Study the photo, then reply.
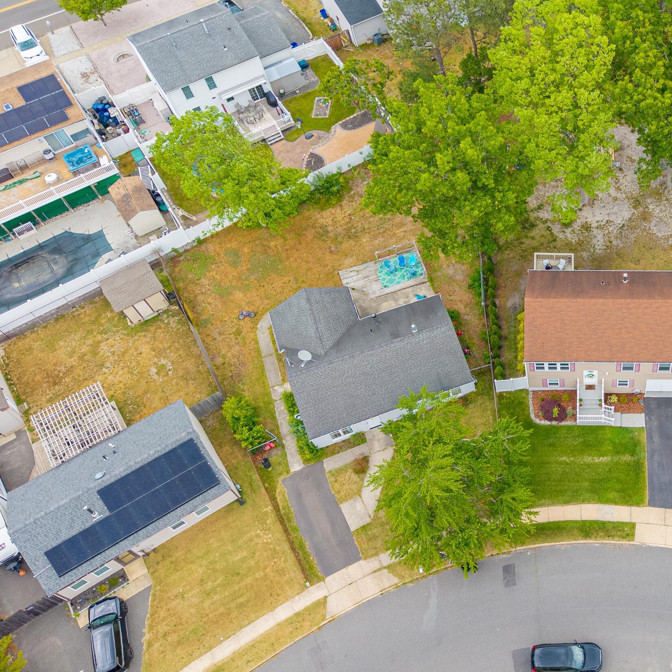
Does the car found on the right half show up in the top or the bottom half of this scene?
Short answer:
bottom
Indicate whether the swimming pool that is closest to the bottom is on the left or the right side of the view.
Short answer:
left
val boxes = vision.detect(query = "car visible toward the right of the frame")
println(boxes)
[530,639,602,672]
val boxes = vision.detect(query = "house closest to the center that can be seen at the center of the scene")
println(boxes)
[269,286,473,450]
